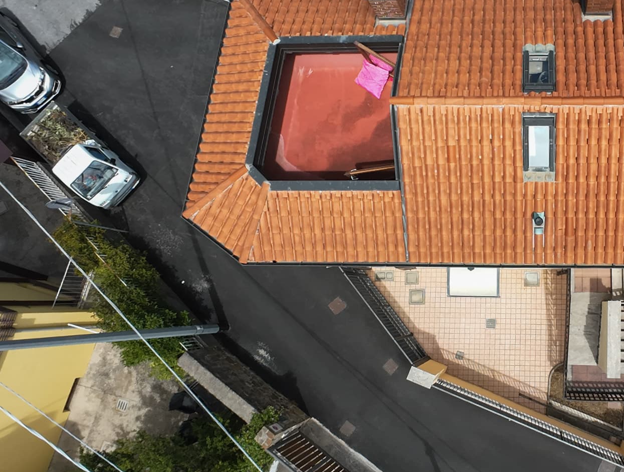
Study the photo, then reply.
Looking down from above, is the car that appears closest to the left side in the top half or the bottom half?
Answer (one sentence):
The car that appears closest to the left side sits in the top half of the picture.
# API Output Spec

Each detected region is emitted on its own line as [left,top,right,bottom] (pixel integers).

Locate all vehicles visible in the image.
[0,1,66,109]
[15,99,144,211]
